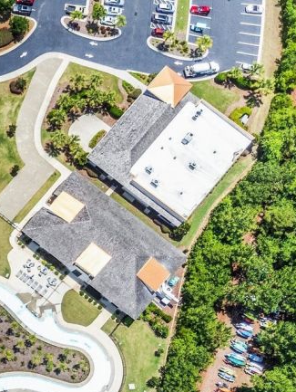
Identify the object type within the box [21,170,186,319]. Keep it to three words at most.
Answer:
building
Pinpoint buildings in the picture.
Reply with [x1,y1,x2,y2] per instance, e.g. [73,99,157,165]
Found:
[21,170,186,319]
[85,65,256,226]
